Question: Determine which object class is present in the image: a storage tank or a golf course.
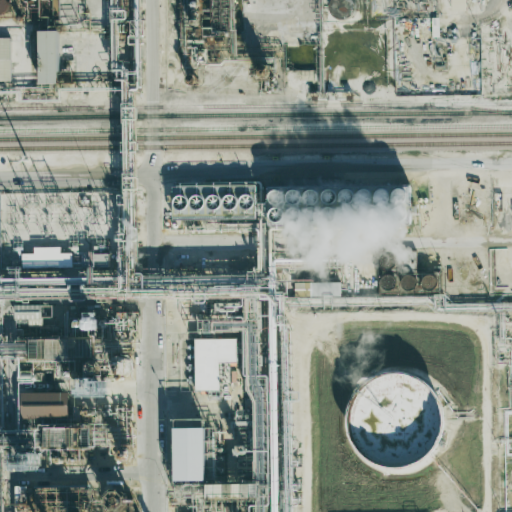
storage tank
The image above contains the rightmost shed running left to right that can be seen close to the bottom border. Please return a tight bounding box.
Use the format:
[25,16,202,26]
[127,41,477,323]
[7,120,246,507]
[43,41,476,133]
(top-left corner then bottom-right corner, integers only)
[204,484,248,496]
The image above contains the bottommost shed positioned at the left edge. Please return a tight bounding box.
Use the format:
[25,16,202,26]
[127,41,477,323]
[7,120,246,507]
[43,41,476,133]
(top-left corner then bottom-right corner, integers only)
[20,392,68,419]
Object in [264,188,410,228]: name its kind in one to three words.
cooling tower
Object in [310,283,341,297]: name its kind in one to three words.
shed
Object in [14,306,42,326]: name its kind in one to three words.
building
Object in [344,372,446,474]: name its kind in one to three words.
storage tank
